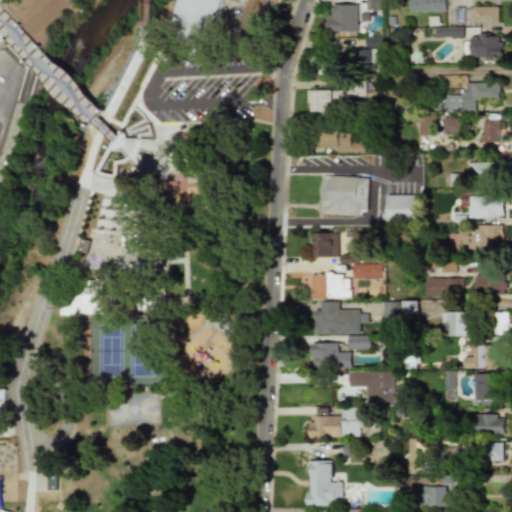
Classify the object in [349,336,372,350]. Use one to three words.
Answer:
building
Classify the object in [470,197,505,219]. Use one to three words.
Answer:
house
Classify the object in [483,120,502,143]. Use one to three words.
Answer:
house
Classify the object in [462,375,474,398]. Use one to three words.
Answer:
swimming pool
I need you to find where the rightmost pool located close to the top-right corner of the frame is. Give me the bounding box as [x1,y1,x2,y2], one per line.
[436,42,454,62]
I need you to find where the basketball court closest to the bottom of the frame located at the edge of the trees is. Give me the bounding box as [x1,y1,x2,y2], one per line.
[108,394,162,424]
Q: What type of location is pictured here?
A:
residential area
